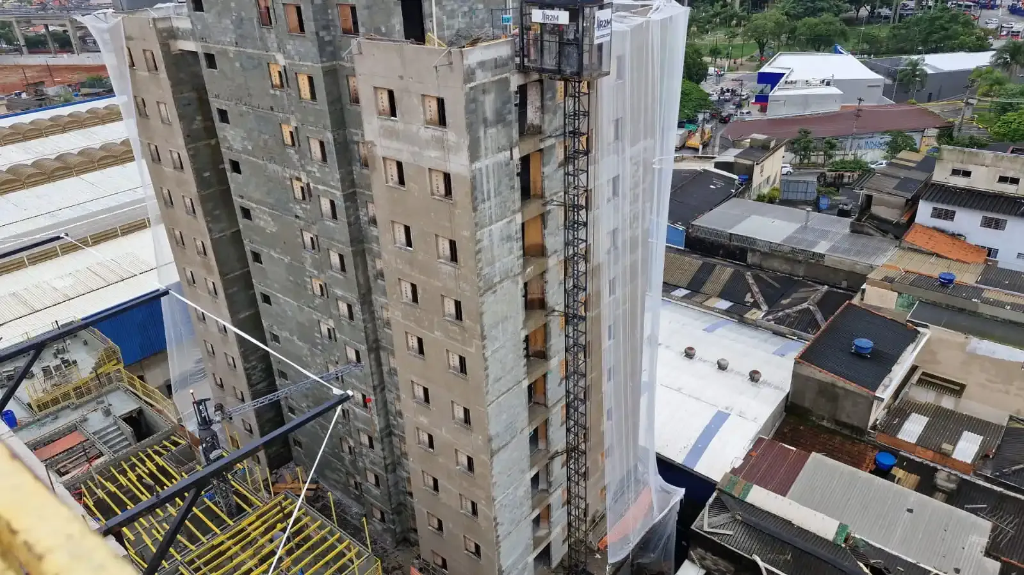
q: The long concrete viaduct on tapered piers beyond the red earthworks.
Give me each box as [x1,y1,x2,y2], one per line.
[0,3,124,53]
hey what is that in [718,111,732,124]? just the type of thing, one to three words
vehicle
